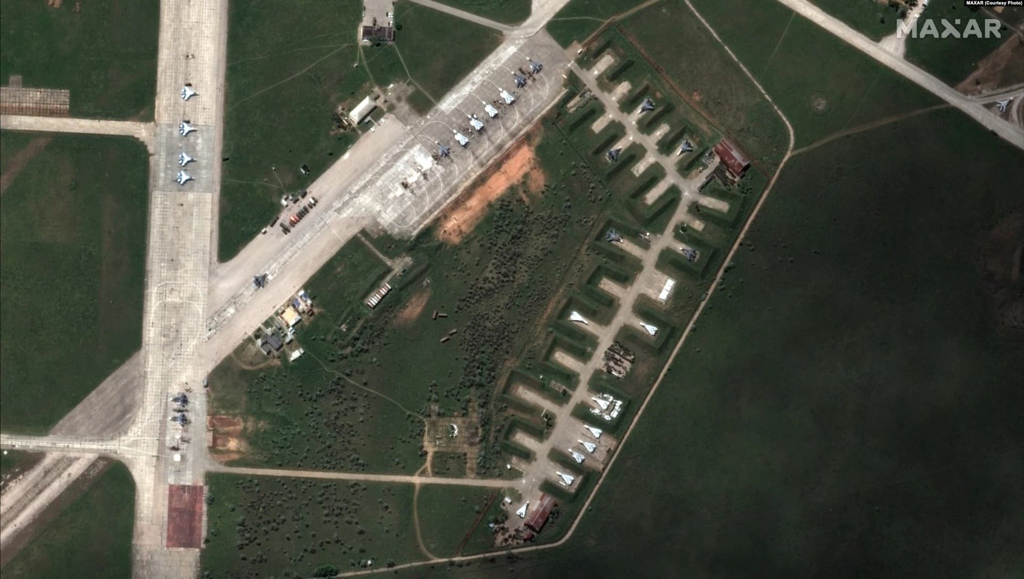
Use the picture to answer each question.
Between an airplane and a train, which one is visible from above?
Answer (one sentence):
Looking from above, you can make out an airplane.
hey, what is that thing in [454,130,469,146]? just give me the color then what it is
white airplane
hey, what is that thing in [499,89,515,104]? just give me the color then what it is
white airplane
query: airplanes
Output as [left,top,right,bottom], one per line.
[438,143,453,157]
[499,89,515,104]
[592,398,610,410]
[556,472,575,485]
[252,273,267,288]
[585,426,603,439]
[606,229,622,242]
[171,393,188,407]
[569,311,587,323]
[677,140,692,156]
[680,248,698,260]
[516,502,528,520]
[179,123,196,136]
[639,98,655,112]
[170,413,187,426]
[528,58,544,73]
[454,130,469,146]
[482,101,498,118]
[569,450,585,464]
[181,87,197,100]
[513,73,529,87]
[176,171,193,184]
[997,98,1011,108]
[606,146,622,161]
[179,152,197,165]
[640,323,659,335]
[468,115,484,131]
[579,441,596,454]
